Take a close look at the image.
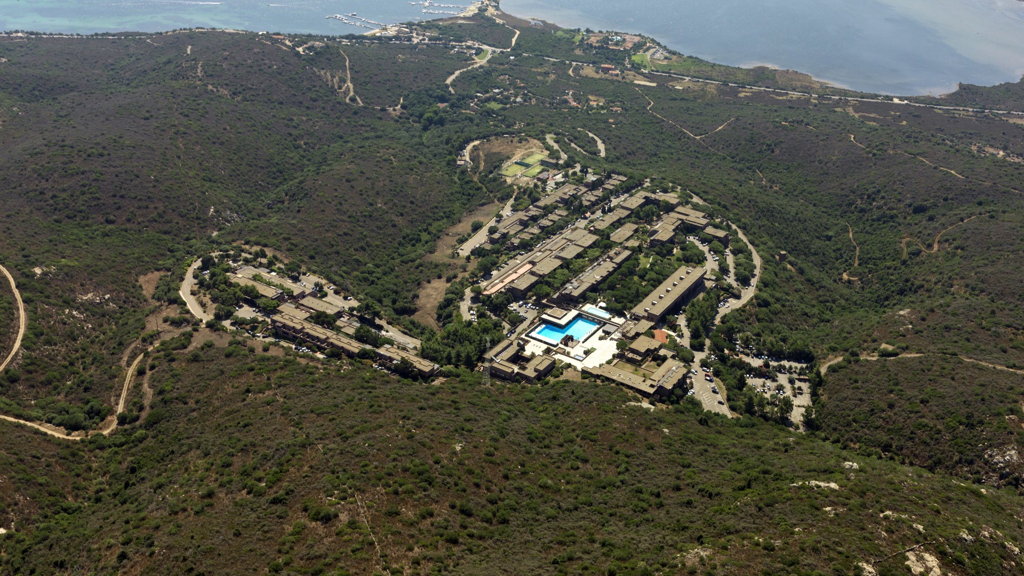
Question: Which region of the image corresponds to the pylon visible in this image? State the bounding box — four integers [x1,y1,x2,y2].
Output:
[479,344,493,382]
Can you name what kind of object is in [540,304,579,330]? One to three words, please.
building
